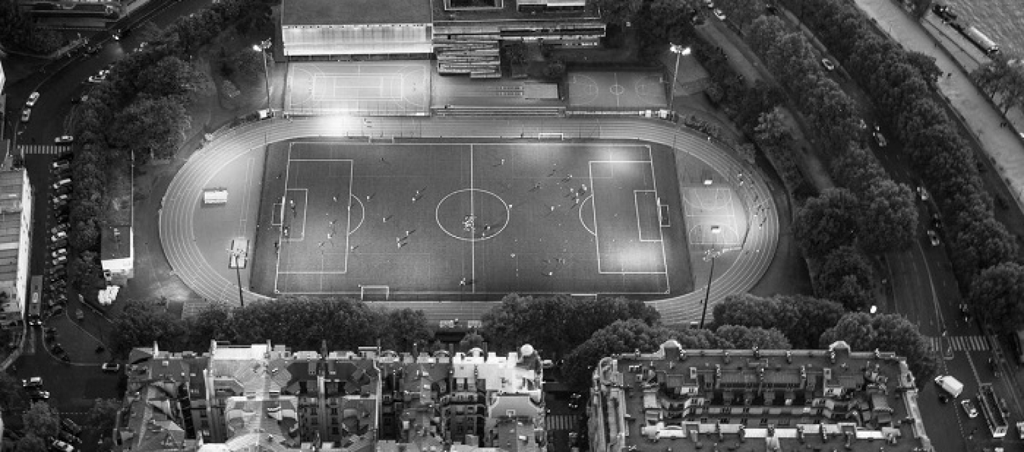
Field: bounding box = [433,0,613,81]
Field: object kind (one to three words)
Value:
building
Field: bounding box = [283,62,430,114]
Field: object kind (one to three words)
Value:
sports court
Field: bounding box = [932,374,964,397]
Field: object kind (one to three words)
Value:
truck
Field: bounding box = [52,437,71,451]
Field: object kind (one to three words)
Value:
car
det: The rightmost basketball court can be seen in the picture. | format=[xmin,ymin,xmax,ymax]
[684,187,743,244]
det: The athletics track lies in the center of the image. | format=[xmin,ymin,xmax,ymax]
[160,116,780,326]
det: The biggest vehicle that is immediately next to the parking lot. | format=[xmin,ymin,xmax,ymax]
[27,270,45,326]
